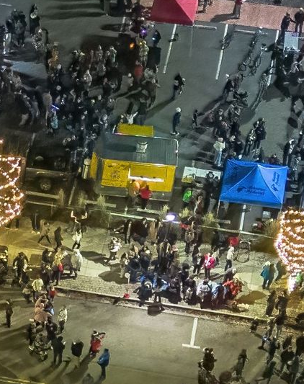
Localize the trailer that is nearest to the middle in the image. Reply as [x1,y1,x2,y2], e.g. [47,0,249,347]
[79,115,180,212]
